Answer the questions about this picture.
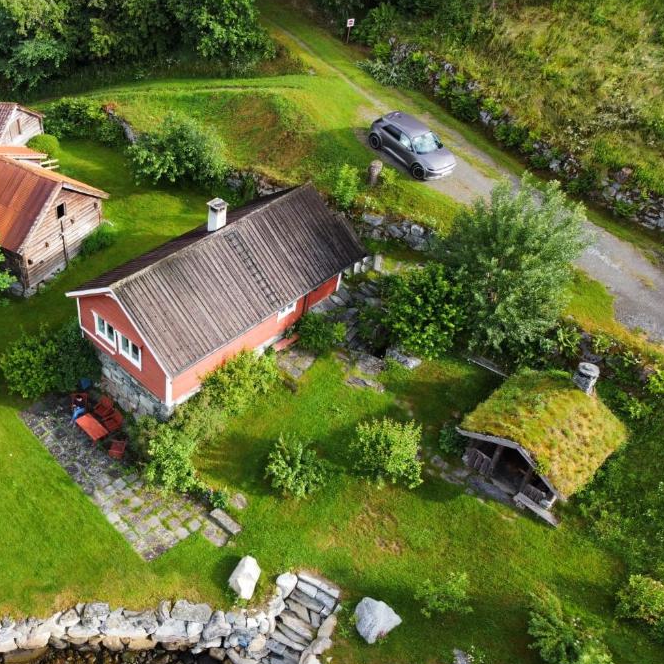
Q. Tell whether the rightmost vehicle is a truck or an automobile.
automobile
